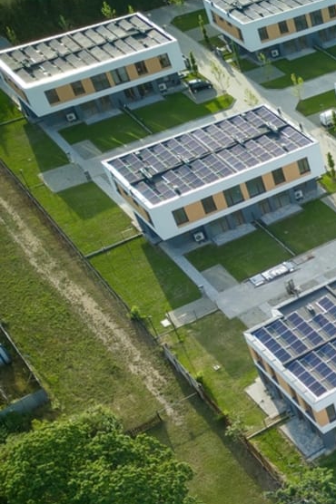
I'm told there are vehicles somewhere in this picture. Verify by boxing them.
[317,102,336,124]
[184,79,214,94]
